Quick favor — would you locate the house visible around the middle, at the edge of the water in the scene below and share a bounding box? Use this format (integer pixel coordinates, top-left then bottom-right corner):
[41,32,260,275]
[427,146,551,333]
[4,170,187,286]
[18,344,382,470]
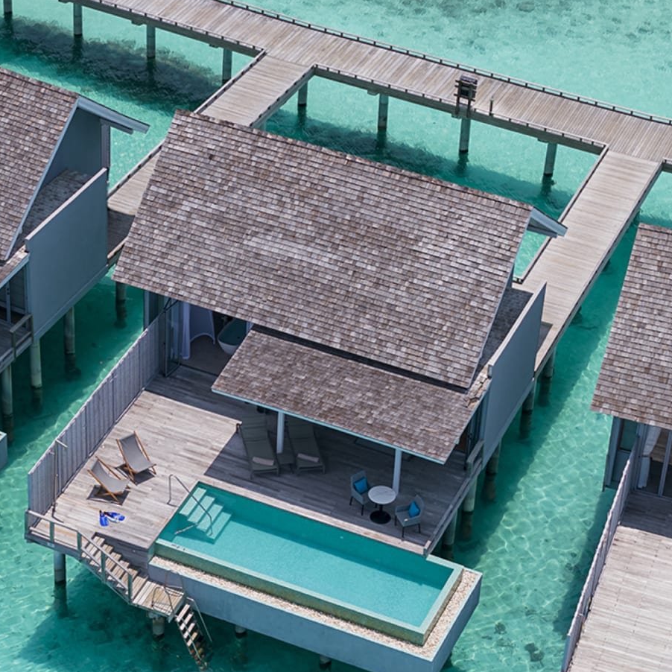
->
[21,107,573,635]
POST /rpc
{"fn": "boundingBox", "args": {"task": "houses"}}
[0,66,150,464]
[567,221,672,672]
[21,107,573,635]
